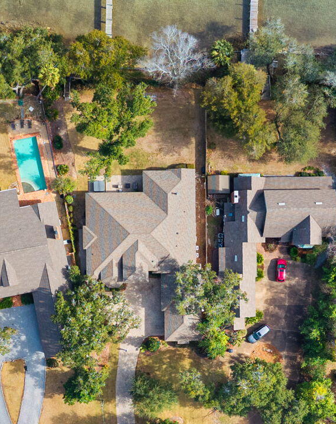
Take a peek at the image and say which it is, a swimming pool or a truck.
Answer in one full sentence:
Visible in the photo is a swimming pool.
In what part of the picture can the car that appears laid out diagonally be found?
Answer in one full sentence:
The car that appears laid out diagonally is located in the bottom right region of the scene.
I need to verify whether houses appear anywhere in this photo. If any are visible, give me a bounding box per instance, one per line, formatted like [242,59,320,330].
[218,173,336,330]
[0,188,76,356]
[83,169,205,344]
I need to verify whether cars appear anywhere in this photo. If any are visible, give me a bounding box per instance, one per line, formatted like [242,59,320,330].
[247,324,271,344]
[275,259,286,283]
